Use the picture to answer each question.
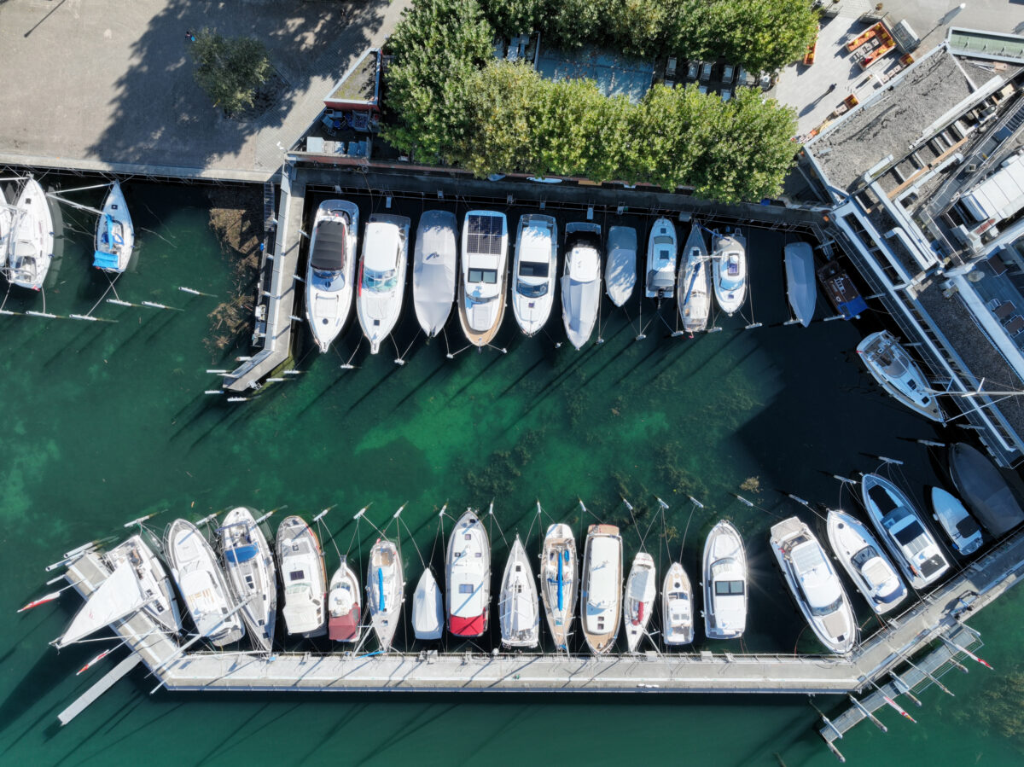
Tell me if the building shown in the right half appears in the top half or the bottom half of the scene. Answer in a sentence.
The top half of the photo is where the building shown in the right half is.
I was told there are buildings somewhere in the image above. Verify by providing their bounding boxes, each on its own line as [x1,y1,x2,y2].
[790,26,1024,468]
[323,46,386,117]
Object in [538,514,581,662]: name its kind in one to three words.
boat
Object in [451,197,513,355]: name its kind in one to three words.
boat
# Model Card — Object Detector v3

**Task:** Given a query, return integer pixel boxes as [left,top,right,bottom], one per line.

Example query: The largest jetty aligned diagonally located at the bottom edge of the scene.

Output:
[820,622,984,742]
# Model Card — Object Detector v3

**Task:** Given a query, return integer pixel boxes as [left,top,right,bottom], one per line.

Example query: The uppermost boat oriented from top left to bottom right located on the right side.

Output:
[816,258,871,323]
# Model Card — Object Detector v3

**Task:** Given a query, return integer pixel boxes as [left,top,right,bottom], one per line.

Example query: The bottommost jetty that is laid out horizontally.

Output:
[62,524,1024,691]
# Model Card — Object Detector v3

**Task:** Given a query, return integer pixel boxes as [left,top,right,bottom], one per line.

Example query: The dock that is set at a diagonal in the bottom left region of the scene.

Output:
[58,652,138,724]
